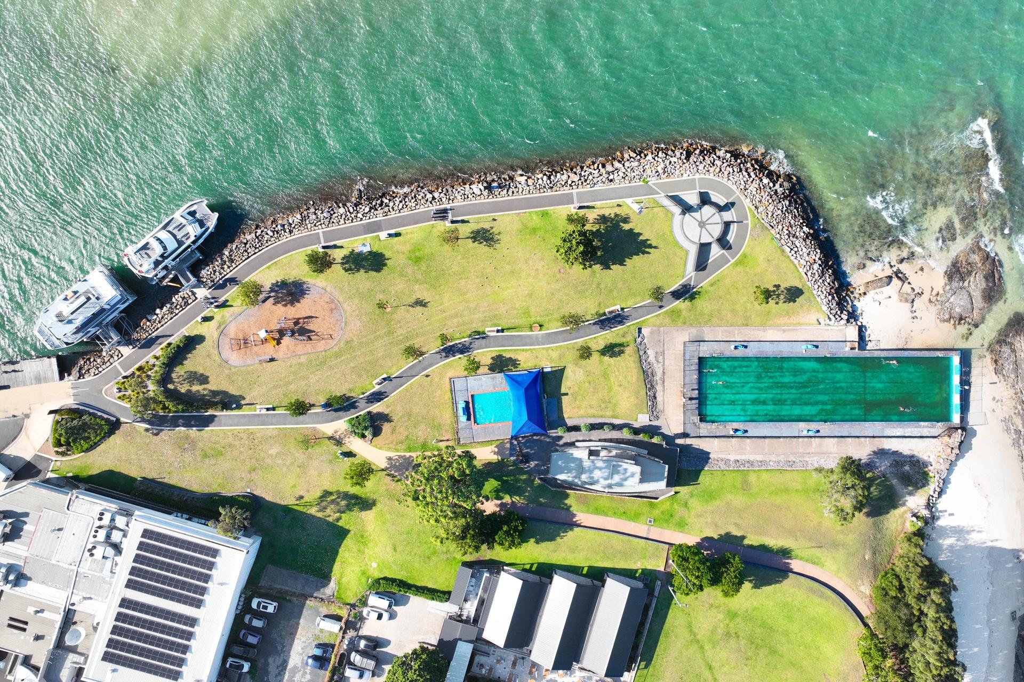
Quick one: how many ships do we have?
2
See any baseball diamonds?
No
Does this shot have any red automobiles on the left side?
No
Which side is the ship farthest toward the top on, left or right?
left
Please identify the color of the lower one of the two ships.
white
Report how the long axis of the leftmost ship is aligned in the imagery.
on a diagonal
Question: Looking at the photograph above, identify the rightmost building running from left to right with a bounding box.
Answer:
[536,439,680,503]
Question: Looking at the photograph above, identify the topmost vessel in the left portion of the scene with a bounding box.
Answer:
[123,200,219,285]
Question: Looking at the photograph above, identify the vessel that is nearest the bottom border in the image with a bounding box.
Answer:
[35,266,138,349]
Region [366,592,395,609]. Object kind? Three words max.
vehicle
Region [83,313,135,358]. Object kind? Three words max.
pier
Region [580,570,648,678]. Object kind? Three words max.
building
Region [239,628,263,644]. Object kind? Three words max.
car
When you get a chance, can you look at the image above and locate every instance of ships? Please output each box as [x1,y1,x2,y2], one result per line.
[35,266,138,349]
[123,200,219,285]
